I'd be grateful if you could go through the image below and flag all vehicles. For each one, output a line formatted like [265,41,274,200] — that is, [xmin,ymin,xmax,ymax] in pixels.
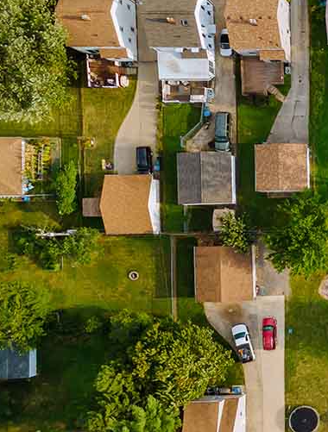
[218,27,234,58]
[213,113,231,151]
[260,316,277,350]
[232,324,255,363]
[135,146,154,174]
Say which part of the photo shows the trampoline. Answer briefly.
bottom right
